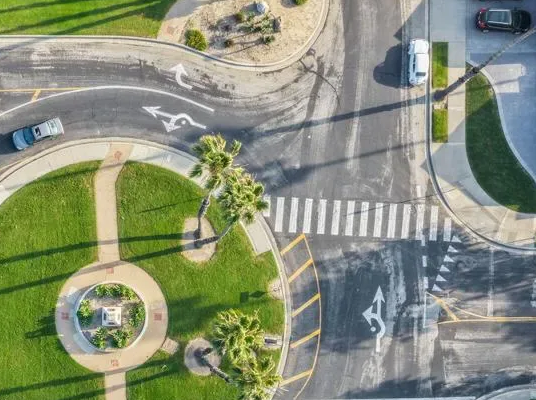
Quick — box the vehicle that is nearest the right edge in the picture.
[477,4,531,30]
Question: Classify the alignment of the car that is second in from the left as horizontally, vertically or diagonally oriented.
vertically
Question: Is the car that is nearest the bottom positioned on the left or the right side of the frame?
left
